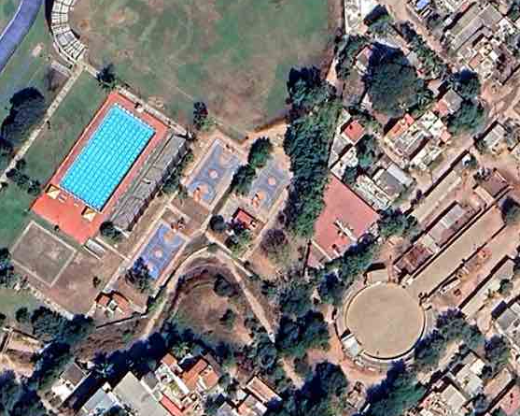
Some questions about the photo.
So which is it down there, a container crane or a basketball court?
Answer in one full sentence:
Of the two, only a basketball court appears.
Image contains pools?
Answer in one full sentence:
Yes, the frame does contain a pool.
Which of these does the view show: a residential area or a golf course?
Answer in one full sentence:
This image shows a residential area.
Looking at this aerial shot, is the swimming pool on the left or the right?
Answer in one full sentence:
You can find the swimming pool on the left side of the picture.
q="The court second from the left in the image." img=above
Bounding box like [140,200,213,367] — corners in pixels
[126,213,194,289]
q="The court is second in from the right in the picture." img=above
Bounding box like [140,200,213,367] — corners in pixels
[237,147,298,223]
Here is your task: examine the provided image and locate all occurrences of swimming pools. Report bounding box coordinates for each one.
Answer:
[30,90,167,244]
